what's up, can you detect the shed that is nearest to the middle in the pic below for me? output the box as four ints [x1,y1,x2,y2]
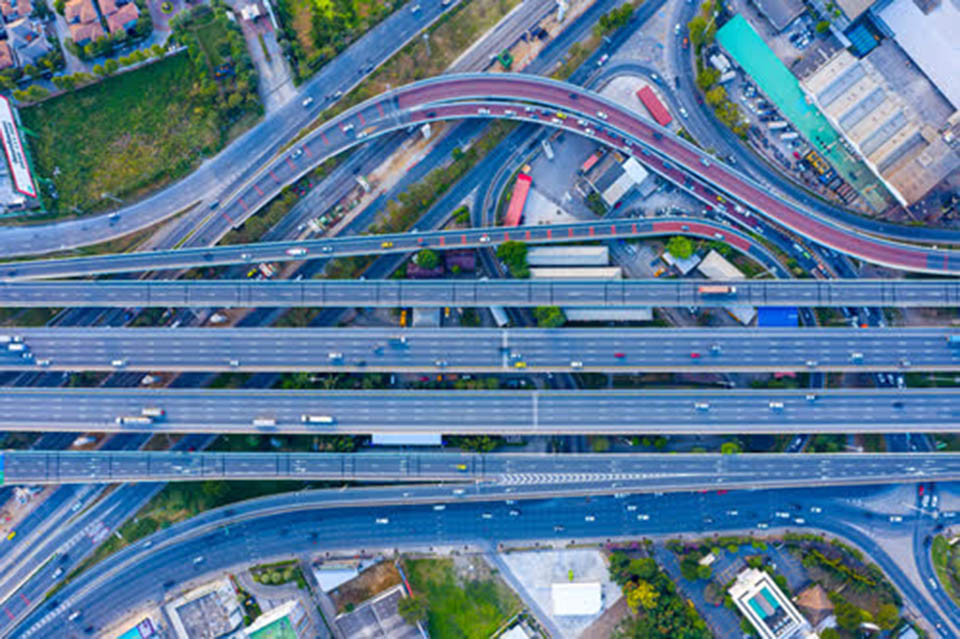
[482,306,516,327]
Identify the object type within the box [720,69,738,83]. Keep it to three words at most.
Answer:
vehicle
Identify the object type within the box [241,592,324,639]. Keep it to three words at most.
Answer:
house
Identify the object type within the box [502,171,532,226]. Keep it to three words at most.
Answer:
building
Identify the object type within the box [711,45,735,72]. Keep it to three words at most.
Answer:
truck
